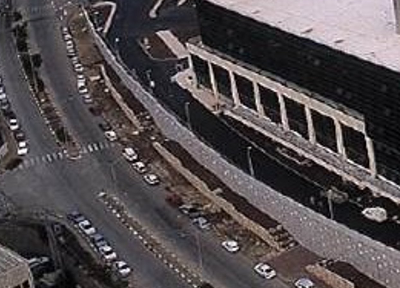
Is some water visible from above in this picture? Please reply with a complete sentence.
No, there's no water in this view.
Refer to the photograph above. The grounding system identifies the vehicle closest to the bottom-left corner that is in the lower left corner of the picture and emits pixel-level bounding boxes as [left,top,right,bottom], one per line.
[26,241,51,265]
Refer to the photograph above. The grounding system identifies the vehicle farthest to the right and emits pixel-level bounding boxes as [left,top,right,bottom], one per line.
[357,192,392,221]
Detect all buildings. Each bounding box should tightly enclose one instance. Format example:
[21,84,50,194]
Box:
[0,246,36,288]
[180,0,400,184]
